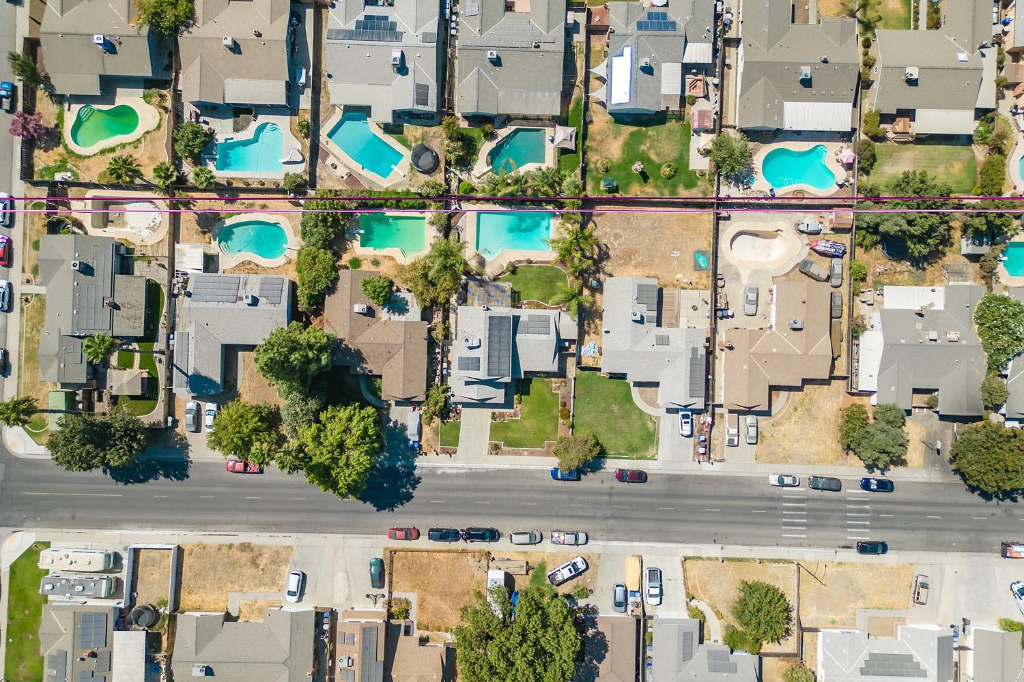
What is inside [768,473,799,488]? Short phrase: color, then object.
white car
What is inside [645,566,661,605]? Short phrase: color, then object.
white vehicle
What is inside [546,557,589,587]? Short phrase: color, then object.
white truck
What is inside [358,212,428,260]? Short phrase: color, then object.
green swimming pool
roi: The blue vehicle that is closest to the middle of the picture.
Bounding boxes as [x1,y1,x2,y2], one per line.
[548,467,579,481]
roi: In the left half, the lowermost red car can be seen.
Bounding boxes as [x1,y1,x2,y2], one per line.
[388,526,420,541]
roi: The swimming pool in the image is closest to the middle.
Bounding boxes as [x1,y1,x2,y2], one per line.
[474,212,553,263]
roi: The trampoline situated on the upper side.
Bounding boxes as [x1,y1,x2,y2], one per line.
[410,143,439,174]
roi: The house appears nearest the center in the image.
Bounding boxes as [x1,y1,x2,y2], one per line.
[450,304,578,405]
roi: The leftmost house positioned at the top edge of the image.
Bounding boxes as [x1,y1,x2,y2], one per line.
[41,0,159,100]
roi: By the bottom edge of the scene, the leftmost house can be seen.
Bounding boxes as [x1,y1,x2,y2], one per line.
[34,601,153,682]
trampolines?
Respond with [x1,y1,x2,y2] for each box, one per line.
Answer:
[410,143,439,174]
[127,600,160,632]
